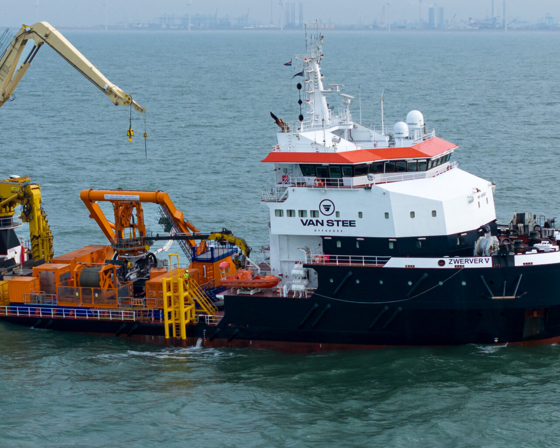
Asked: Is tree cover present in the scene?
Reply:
No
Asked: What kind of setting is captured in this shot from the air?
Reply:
port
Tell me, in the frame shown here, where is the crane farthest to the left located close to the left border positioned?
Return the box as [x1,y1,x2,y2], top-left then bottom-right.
[0,174,52,258]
